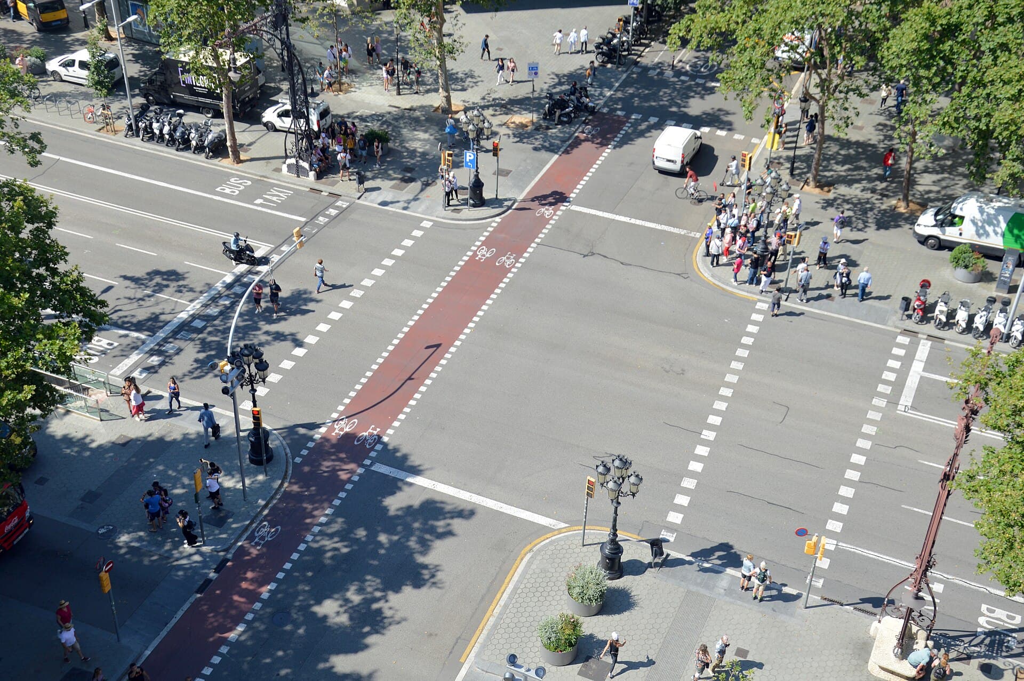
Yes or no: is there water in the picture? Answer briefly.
No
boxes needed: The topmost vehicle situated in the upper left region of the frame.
[36,0,80,28]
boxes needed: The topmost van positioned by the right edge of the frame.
[914,191,1024,269]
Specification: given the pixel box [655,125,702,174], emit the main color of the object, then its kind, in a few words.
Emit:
white van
